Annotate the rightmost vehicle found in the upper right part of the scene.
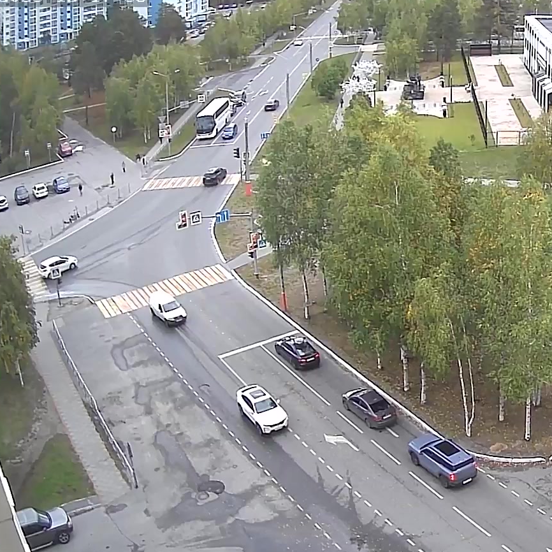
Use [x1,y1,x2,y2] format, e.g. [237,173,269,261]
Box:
[399,75,430,102]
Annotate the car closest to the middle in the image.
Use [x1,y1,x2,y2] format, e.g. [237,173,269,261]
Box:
[275,335,321,370]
